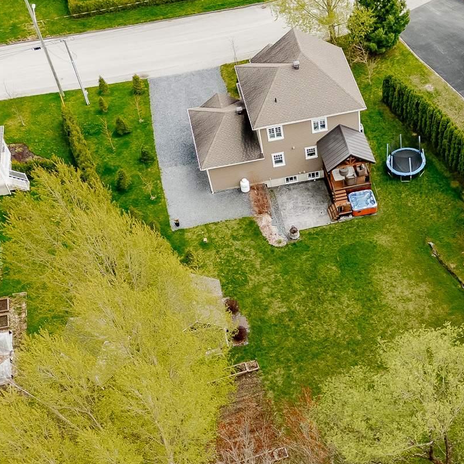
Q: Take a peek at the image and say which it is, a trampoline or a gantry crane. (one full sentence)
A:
This aerial view contains a trampoline.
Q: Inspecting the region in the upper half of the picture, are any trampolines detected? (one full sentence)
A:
Yes, a trampoline shows up in the upper half of the picture.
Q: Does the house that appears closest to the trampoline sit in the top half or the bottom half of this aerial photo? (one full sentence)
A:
The top half of the photo is where the house that appears closest to the trampoline is.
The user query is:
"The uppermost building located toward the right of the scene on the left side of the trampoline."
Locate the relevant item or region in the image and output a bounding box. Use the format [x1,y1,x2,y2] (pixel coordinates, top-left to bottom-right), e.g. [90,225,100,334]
[189,23,368,195]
